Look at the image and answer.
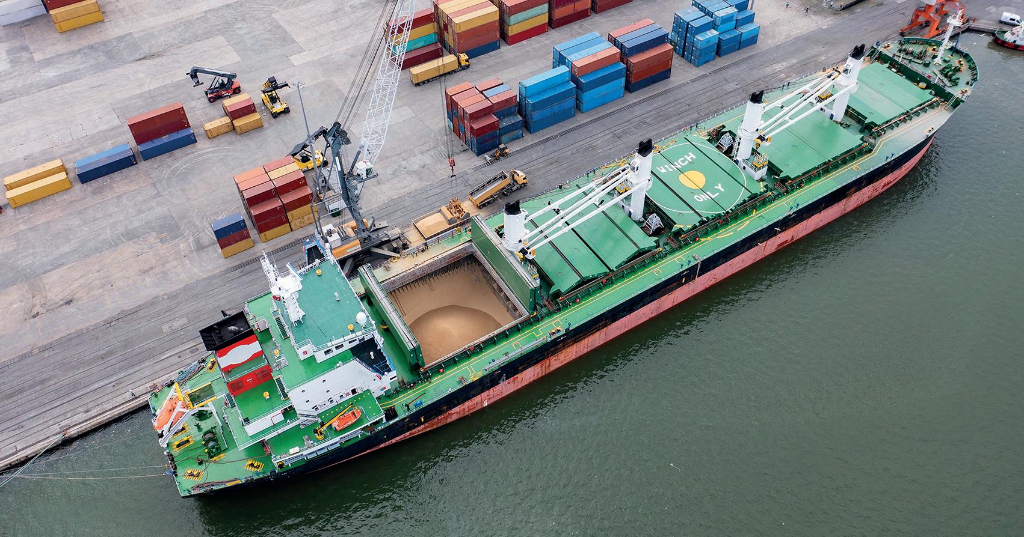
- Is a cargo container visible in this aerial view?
Yes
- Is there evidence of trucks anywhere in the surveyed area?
Yes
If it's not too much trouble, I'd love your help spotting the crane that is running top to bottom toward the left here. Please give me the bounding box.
[311,0,456,281]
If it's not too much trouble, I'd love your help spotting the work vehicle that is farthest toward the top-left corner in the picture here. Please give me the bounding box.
[179,66,238,100]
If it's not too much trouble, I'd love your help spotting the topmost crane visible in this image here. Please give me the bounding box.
[896,0,956,40]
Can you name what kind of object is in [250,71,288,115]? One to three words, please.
work vehicle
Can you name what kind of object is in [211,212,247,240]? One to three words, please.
shipping container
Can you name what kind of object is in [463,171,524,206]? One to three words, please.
truck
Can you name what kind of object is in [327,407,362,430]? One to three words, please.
boat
